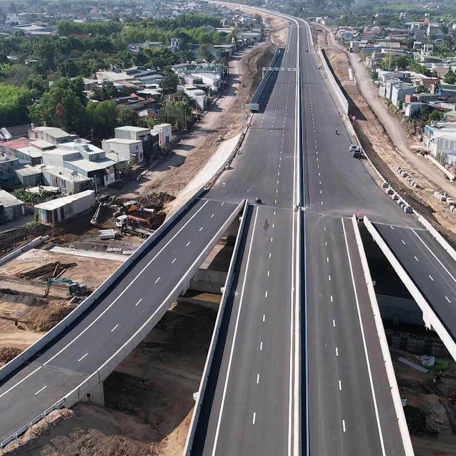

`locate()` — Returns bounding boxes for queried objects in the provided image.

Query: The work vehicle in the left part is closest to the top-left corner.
[102,190,151,220]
